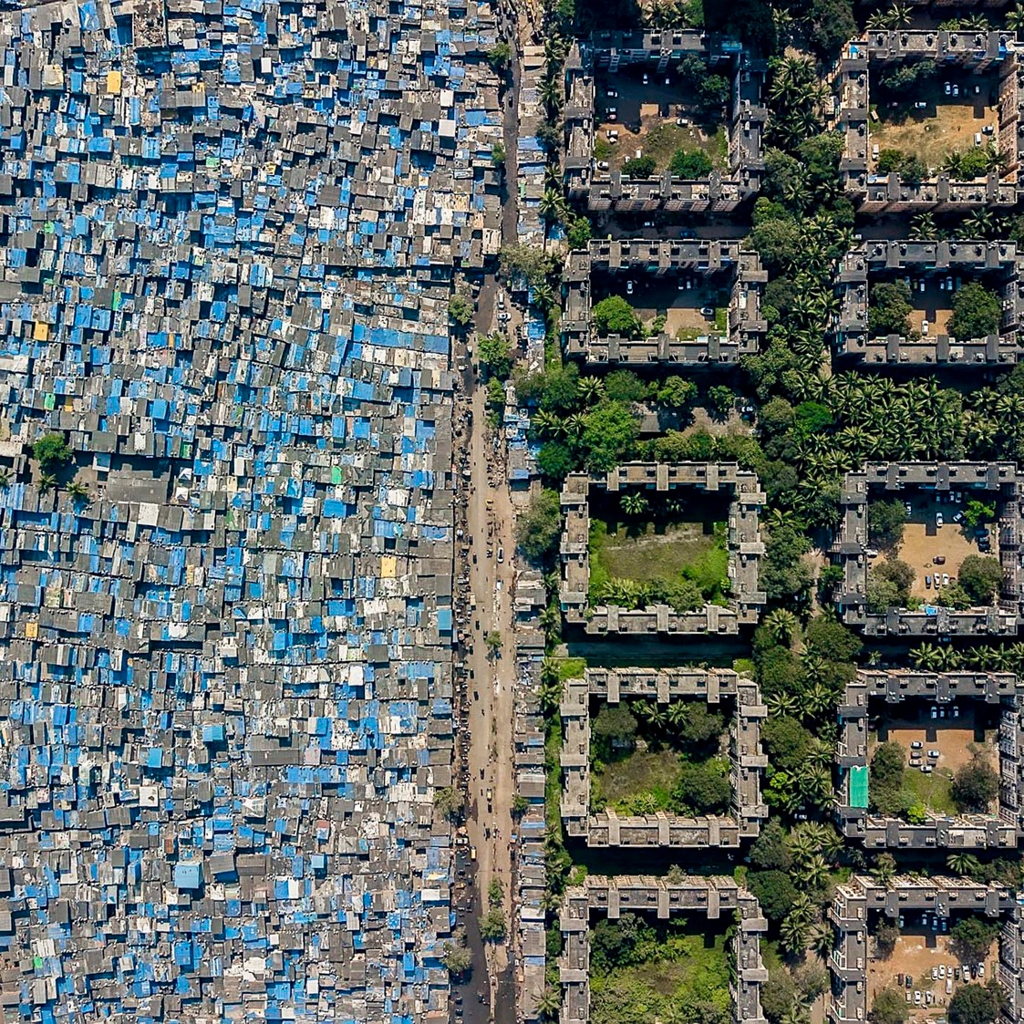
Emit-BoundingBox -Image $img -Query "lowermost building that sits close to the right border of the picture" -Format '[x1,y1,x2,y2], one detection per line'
[827,875,1024,1024]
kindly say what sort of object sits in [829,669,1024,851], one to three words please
building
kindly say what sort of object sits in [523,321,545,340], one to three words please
shed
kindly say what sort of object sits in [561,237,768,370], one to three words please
building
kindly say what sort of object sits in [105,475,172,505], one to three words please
shed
